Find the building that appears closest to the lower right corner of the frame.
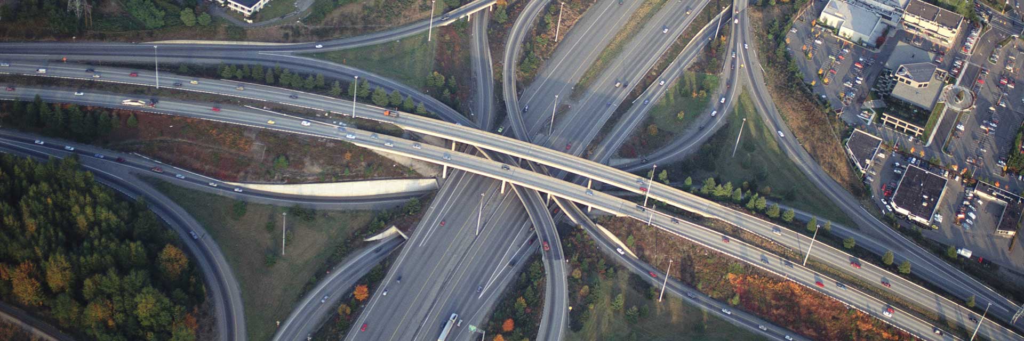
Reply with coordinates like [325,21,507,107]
[973,180,1024,236]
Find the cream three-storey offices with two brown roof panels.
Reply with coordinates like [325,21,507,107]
[897,0,963,50]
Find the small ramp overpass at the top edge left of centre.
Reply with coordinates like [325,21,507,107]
[432,0,500,26]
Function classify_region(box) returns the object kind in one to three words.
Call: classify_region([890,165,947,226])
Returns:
building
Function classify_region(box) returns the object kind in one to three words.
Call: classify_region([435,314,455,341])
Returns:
vehicle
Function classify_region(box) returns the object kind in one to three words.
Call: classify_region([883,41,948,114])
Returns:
building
